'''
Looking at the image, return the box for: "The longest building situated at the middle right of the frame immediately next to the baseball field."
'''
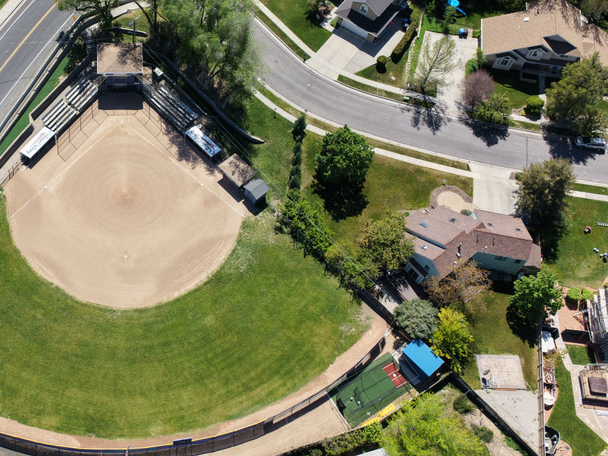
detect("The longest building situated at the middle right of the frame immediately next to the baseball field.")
[394,206,541,285]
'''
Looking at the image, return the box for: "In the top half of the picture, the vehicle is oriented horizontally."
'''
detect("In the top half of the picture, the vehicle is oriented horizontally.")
[576,135,608,152]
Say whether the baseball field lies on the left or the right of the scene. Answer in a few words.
left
